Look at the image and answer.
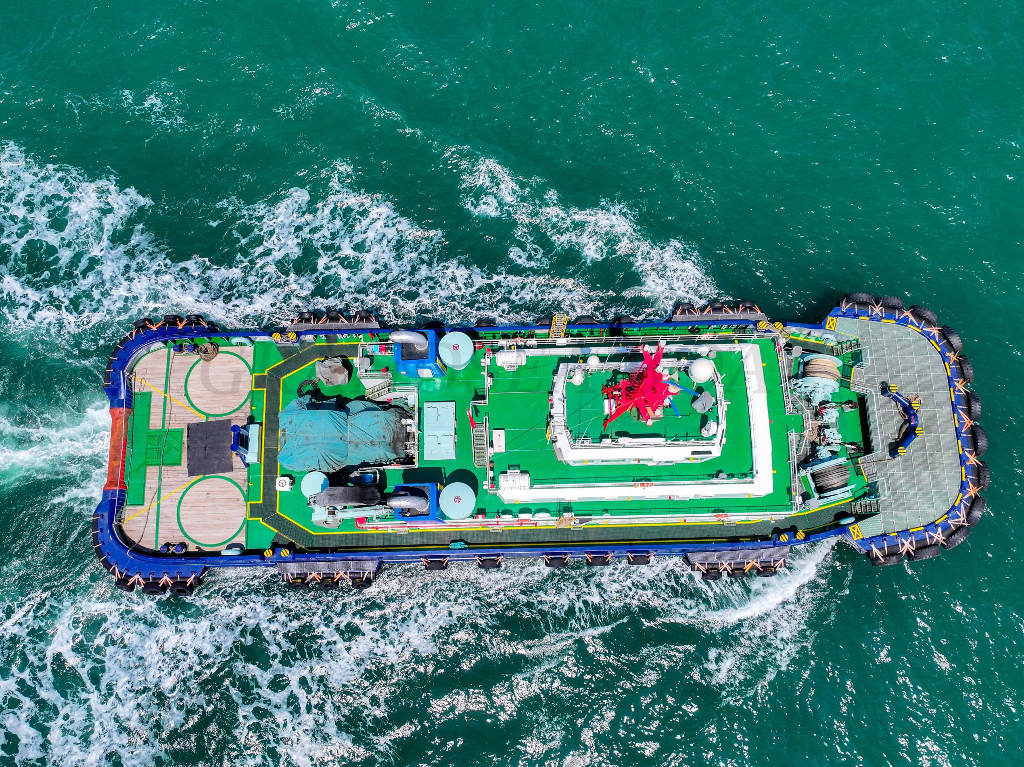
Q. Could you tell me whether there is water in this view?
Yes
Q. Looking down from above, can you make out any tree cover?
No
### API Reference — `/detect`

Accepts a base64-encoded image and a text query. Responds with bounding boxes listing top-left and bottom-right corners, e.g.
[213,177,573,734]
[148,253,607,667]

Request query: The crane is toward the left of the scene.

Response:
[307,495,390,527]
